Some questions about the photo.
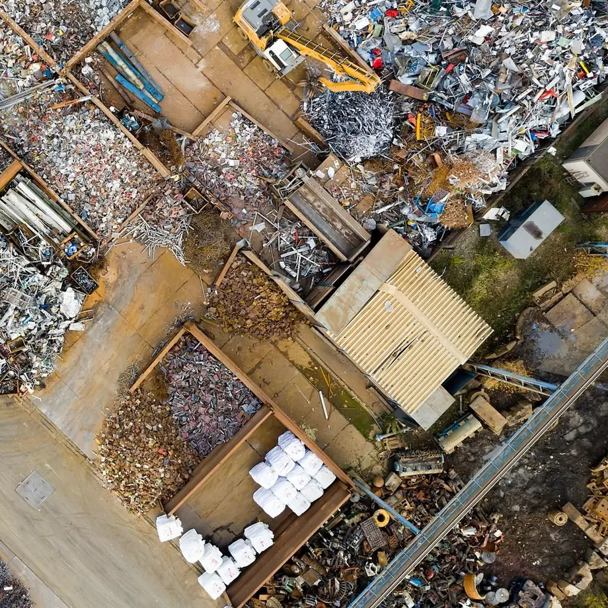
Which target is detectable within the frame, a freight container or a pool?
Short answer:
freight container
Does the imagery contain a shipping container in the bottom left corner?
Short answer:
No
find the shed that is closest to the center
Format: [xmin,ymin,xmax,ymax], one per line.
[312,228,494,429]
